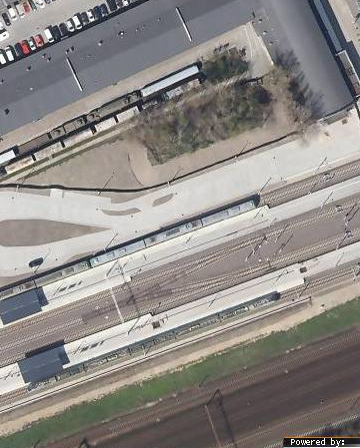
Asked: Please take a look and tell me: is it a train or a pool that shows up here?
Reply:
train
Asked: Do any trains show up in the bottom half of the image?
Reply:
Yes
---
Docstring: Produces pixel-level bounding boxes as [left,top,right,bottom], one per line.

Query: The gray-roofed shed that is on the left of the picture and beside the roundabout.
[0,0,256,134]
